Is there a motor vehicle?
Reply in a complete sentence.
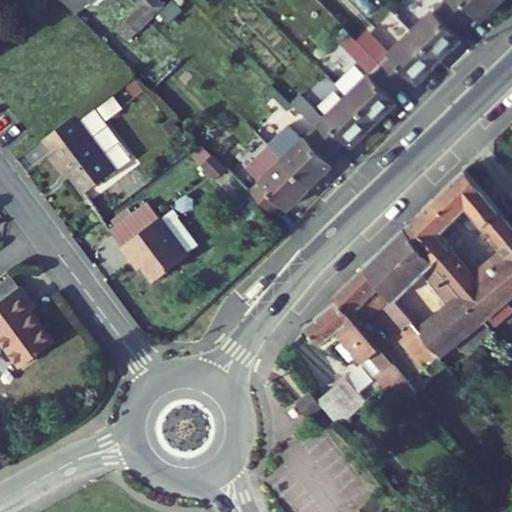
Yes, the frame does contain a motor vehicle.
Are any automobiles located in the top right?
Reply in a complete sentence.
Yes, an automobile is visible in the top right.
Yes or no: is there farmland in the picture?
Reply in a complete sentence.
No, no farmland is visible.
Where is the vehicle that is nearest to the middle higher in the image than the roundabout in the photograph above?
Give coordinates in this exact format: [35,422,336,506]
[249,273,275,298]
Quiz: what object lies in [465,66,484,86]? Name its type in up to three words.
car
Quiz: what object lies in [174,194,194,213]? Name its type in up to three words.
gazebo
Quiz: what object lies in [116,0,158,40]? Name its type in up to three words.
house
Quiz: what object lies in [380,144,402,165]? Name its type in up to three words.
car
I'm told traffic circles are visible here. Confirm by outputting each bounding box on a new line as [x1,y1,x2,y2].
[113,356,257,499]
